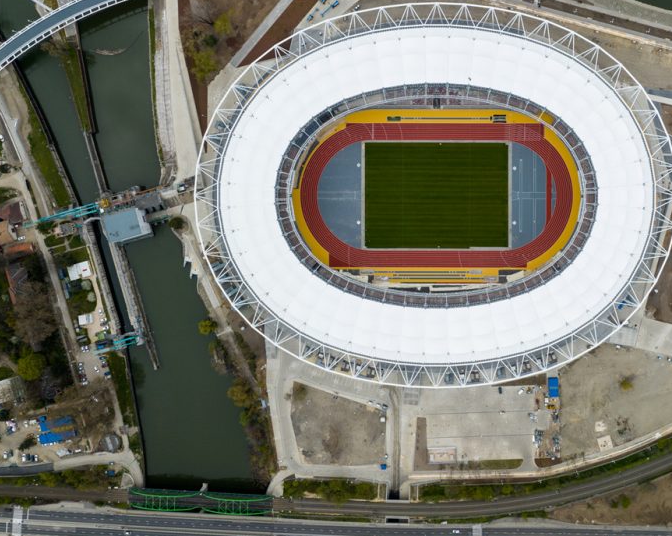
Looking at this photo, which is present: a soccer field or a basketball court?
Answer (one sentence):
Visible in the photo is a soccer field.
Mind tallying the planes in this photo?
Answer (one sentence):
The photo contains no planes.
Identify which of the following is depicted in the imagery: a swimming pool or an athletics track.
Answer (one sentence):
The one in the frame is an athletics track.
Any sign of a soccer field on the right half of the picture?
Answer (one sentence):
Yes, a soccer field shows up on the right half of the picture.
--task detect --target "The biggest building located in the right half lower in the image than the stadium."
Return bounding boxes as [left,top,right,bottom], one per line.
[428,445,457,464]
